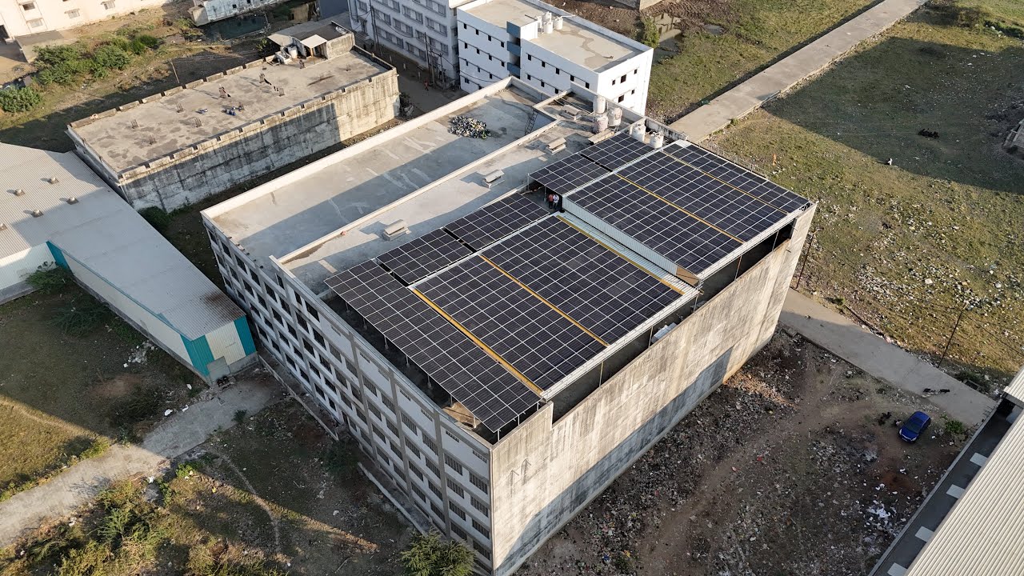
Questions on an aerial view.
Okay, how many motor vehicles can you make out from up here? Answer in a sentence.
Altogether the scene contains 1 motor vehicle.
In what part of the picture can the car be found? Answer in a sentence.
You can find the car in the bottom right area of the picture.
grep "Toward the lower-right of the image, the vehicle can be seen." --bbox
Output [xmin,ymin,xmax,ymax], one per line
[901,409,930,441]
